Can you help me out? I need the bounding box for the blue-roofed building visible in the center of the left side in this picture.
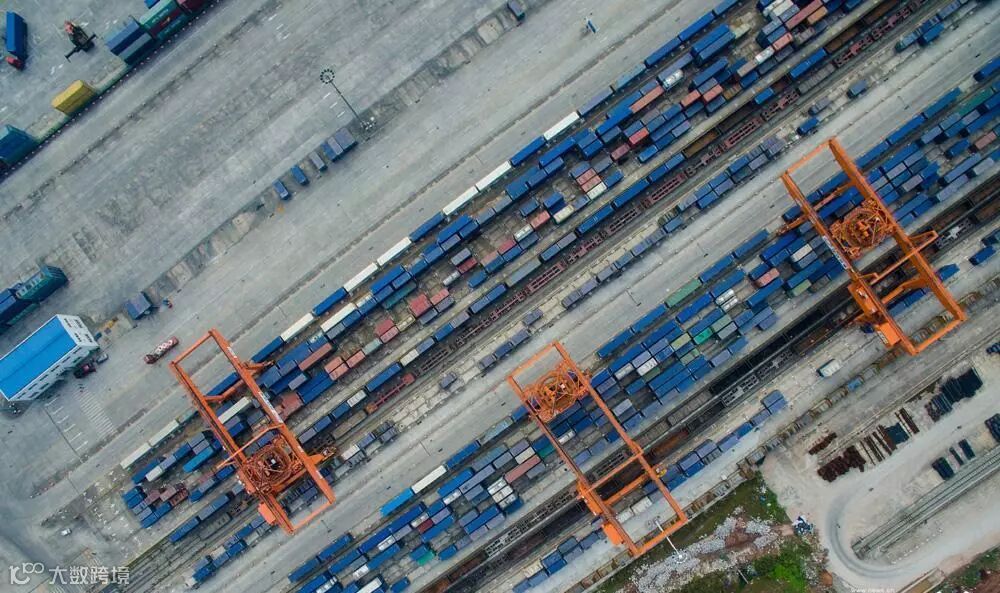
[0,316,97,400]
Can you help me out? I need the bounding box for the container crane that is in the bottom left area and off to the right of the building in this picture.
[167,331,341,535]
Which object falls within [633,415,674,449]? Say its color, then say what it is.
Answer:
gray rail car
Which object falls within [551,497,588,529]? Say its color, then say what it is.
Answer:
black rail car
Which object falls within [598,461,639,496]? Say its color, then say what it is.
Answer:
black rail car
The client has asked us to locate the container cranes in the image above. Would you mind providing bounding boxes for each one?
[506,342,687,556]
[778,139,967,356]
[167,331,341,535]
